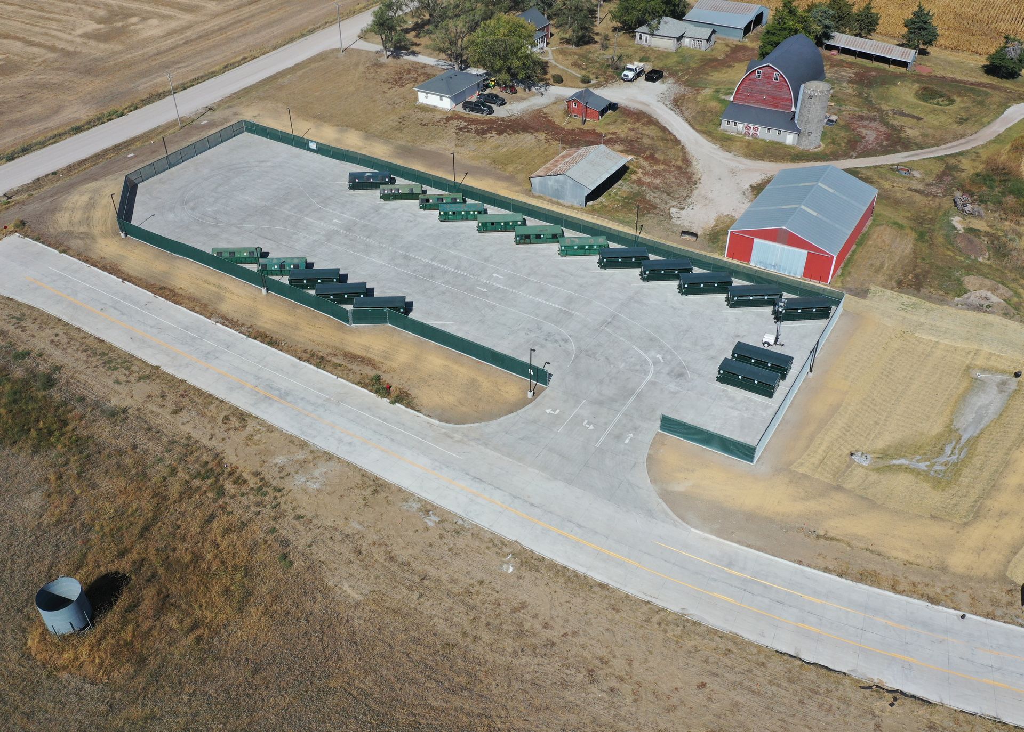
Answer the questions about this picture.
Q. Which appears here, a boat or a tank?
tank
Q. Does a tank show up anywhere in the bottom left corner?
Yes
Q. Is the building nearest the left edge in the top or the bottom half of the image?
top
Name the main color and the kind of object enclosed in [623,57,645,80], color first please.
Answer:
white truck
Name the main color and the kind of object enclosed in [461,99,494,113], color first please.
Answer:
black vehicle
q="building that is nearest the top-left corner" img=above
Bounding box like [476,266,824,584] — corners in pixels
[412,68,486,111]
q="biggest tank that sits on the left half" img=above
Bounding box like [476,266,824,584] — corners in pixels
[35,574,93,642]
